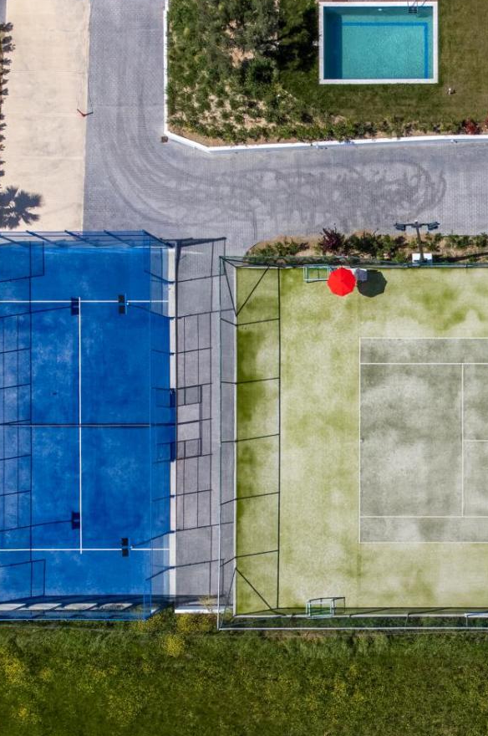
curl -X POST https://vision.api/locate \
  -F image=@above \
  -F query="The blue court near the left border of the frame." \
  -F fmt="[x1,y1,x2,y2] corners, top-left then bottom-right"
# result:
[0,240,176,611]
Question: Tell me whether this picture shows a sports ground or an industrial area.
sports ground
